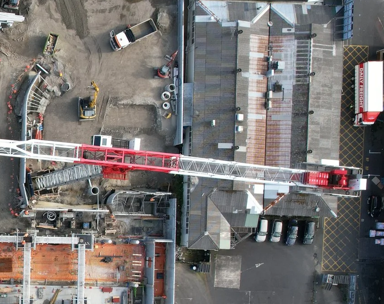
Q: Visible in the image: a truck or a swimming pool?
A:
truck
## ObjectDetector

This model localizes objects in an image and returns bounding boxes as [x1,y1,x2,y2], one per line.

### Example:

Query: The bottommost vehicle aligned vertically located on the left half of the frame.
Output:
[78,76,99,121]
